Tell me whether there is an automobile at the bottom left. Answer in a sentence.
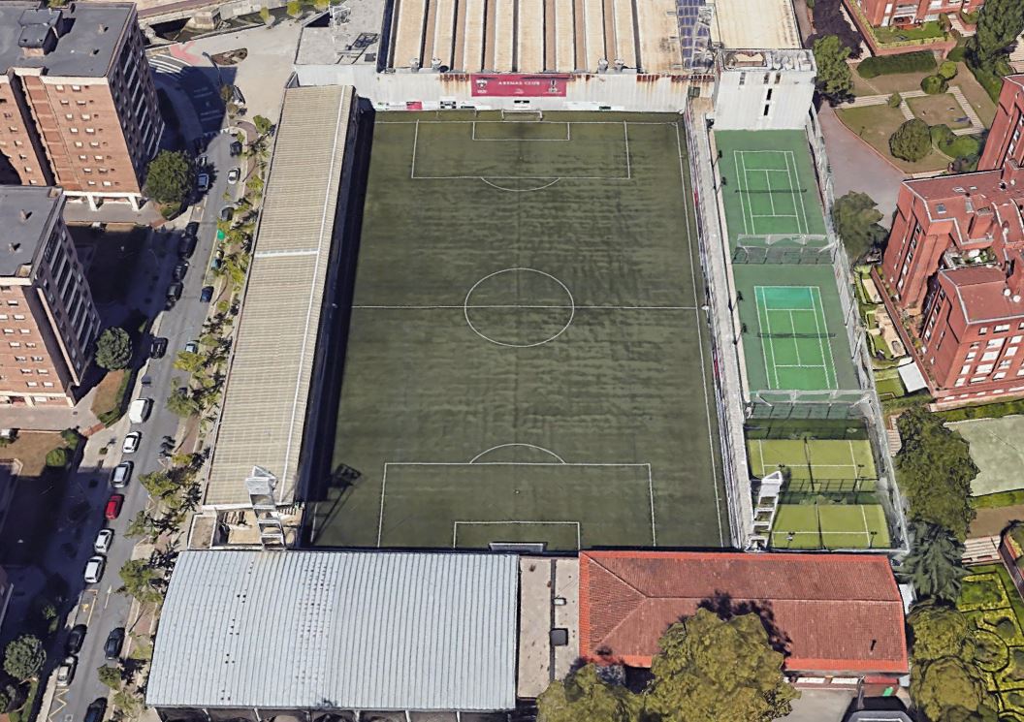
Yes, I can see an automobile at the bottom left.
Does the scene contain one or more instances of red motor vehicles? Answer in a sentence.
Yes, a red motor vehicle appears in the view.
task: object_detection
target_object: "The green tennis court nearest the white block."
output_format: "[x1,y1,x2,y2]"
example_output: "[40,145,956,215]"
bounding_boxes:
[715,129,842,262]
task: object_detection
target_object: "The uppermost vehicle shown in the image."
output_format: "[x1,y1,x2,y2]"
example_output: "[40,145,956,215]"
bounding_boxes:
[230,82,244,103]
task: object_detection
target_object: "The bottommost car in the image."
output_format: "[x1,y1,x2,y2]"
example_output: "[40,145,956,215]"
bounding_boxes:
[85,697,105,722]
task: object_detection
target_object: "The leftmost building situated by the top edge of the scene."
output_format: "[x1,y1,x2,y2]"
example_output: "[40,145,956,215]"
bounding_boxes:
[0,0,159,211]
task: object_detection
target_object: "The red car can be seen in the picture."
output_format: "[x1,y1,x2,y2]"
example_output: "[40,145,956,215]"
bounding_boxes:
[104,493,123,517]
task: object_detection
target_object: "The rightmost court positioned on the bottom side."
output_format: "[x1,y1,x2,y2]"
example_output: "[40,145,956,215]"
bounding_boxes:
[959,413,1024,494]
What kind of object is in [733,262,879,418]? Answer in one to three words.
tennis court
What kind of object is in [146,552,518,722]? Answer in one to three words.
building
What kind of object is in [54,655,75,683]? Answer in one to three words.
car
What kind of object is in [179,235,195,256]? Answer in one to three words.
vehicle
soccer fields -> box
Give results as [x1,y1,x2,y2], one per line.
[297,109,731,579]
